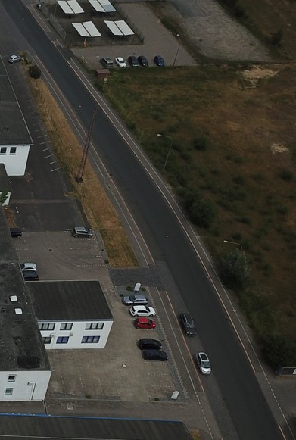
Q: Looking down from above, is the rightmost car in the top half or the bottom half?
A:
bottom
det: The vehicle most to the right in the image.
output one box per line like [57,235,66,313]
[194,351,214,374]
